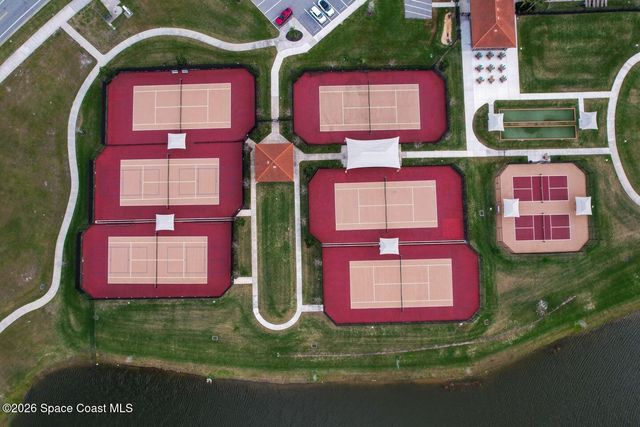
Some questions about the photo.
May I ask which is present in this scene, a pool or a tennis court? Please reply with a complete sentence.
Of the two, only a tennis court appears.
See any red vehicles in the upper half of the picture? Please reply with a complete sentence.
Yes, you'll find a red vehicle in the upper half of the picture.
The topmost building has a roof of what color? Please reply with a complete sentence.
The color of the roof on the topmost building is red.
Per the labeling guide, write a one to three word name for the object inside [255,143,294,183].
building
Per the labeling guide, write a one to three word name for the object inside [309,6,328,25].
car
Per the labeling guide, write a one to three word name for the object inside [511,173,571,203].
sports court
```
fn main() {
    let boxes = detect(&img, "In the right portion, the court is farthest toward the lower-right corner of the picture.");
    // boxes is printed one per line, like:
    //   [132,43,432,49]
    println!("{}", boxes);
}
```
[512,213,572,243]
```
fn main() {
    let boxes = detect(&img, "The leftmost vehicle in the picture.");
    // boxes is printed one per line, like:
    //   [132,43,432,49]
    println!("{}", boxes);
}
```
[275,7,294,26]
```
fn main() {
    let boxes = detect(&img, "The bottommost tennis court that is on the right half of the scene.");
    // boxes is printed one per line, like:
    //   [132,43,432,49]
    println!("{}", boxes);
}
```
[322,242,480,323]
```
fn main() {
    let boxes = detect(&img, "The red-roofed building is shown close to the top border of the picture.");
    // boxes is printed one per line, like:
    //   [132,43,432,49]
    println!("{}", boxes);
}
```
[468,0,516,53]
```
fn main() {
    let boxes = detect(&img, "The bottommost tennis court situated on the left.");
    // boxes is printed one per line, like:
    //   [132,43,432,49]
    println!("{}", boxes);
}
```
[82,221,233,298]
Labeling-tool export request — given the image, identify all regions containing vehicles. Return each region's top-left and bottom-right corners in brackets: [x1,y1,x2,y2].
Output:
[275,7,294,26]
[309,6,328,25]
[318,0,336,18]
